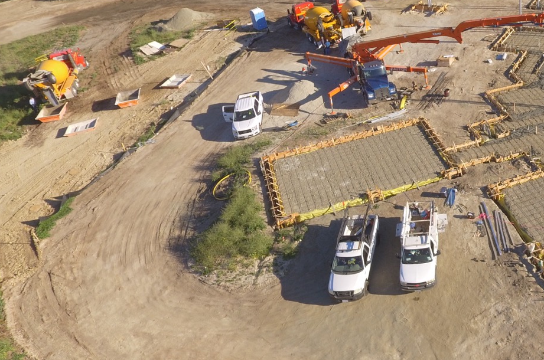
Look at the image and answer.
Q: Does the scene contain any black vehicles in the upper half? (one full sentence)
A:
No, I see no black vehicle in the upper half.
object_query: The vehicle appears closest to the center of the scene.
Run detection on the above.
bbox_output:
[217,87,266,136]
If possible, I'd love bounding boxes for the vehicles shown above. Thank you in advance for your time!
[292,3,345,52]
[390,193,447,287]
[329,0,373,43]
[19,45,88,107]
[217,87,266,136]
[304,16,544,115]
[322,200,384,296]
